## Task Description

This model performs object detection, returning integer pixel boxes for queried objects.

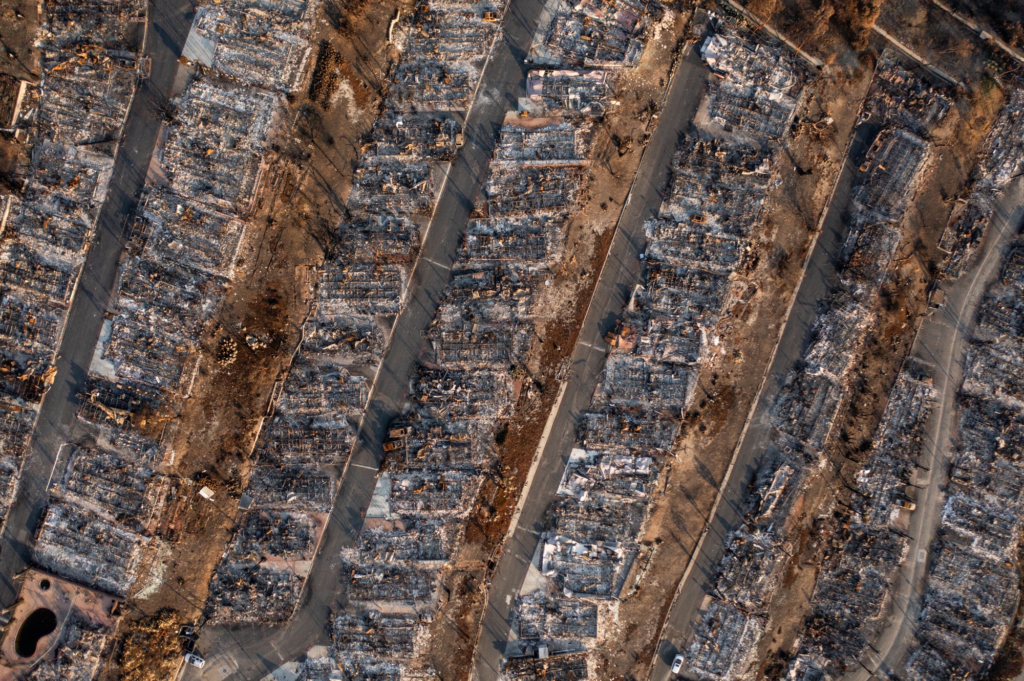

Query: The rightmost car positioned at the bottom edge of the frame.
[670,653,684,676]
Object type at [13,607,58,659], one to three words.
swimming pool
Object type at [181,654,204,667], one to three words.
vehicle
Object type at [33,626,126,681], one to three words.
house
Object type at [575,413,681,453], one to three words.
house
